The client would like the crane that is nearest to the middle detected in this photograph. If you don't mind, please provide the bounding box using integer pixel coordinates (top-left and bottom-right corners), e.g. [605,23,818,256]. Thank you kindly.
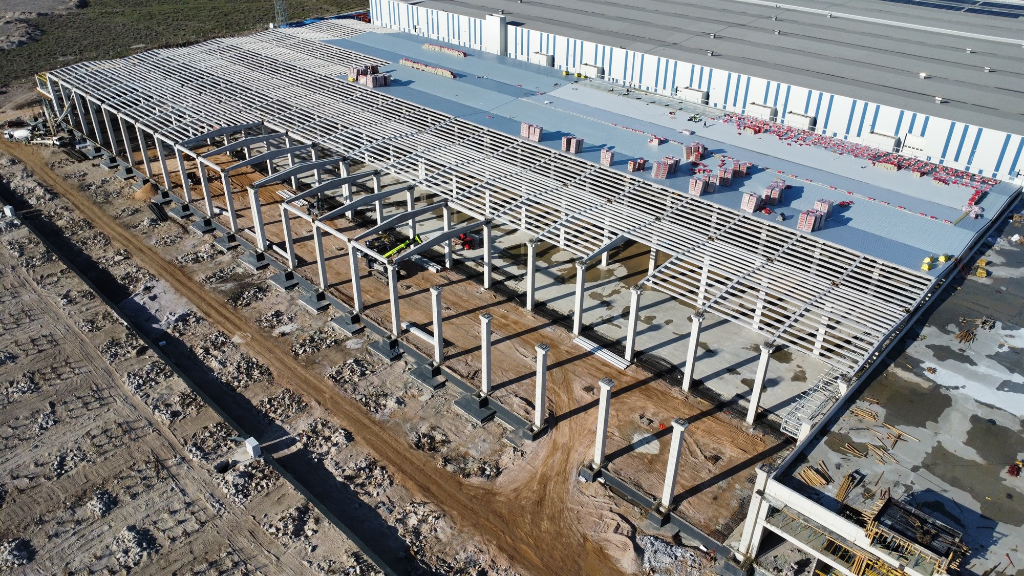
[369,229,430,285]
